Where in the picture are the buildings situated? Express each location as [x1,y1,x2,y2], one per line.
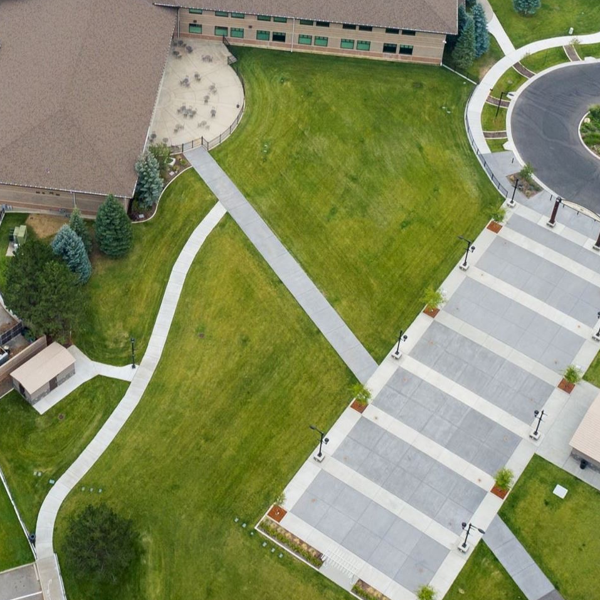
[0,0,459,220]
[12,343,75,405]
[569,394,600,472]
